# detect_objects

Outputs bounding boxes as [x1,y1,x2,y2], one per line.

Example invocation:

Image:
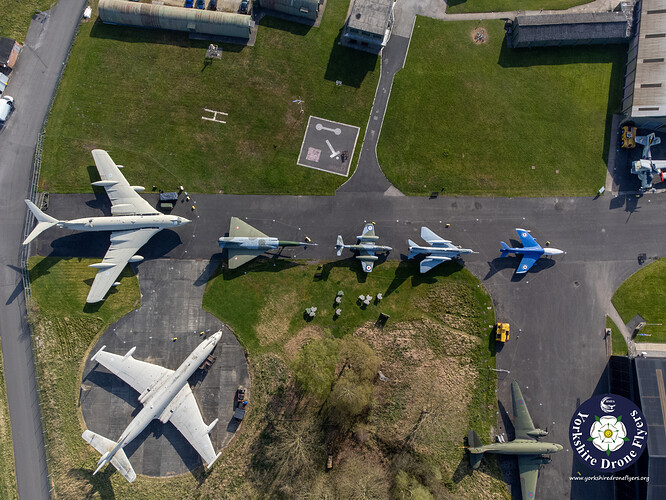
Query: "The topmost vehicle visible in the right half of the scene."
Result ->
[620,127,637,149]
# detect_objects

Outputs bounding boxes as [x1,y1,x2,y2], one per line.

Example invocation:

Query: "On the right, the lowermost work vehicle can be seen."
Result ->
[495,323,511,342]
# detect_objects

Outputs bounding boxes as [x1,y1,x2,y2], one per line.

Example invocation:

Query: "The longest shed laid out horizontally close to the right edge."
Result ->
[498,9,639,48]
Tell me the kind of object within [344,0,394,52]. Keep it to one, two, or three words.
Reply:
building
